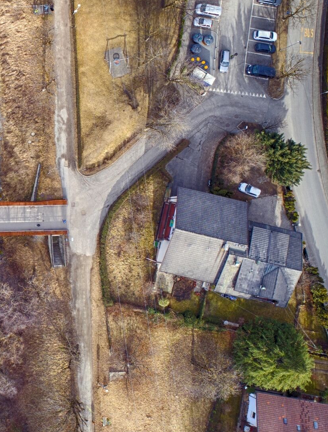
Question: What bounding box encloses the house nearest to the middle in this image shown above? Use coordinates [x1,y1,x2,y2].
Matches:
[147,187,303,307]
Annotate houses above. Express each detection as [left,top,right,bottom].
[243,387,328,432]
[147,187,303,307]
